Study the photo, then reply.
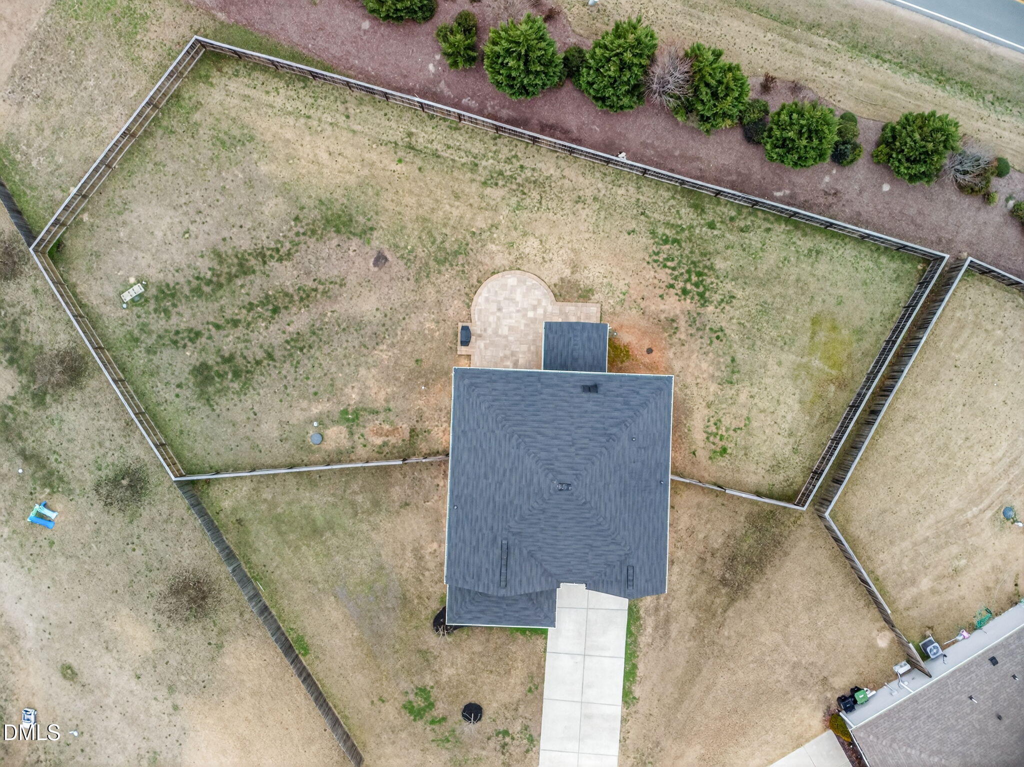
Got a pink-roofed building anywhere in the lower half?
No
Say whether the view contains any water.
No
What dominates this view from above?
grass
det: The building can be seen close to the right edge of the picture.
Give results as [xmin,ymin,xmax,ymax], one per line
[834,602,1024,767]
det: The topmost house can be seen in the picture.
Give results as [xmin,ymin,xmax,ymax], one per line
[444,322,677,630]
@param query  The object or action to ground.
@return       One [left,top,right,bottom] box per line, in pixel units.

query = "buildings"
[834,602,1024,767]
[444,322,677,630]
